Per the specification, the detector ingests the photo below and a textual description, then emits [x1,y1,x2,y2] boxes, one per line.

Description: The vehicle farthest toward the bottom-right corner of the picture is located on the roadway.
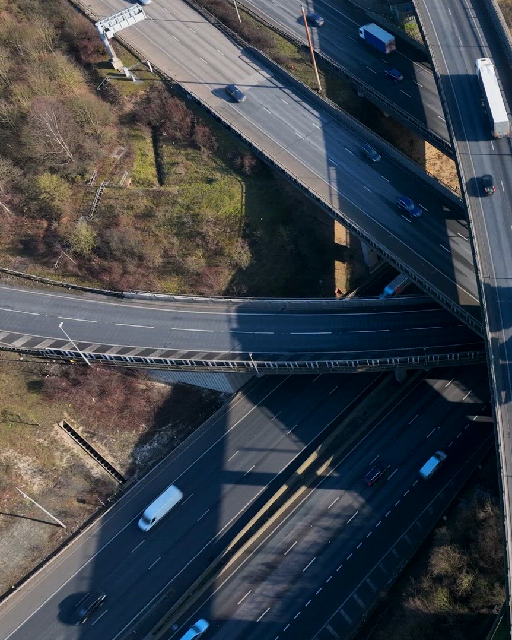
[416,450,449,482]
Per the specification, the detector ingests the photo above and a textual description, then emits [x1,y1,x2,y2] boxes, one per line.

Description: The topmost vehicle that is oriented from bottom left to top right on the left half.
[141,485,183,529]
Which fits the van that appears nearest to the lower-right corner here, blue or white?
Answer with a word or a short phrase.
blue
